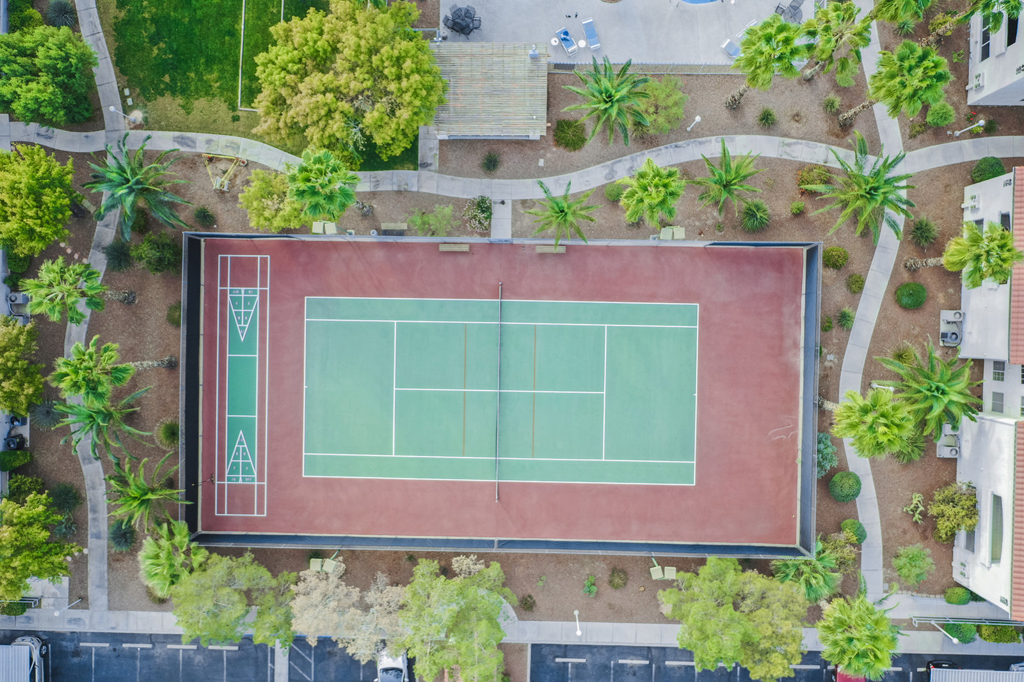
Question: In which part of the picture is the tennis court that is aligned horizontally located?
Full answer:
You can find the tennis court that is aligned horizontally in the center area of the picture.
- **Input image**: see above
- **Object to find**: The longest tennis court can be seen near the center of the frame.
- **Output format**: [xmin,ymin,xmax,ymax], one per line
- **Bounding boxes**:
[200,239,803,541]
